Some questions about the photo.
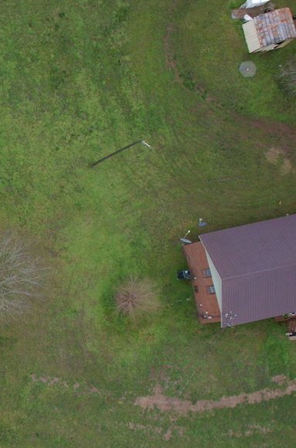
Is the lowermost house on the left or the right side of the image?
right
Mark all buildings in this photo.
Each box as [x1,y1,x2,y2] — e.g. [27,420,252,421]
[243,7,296,53]
[198,217,296,327]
